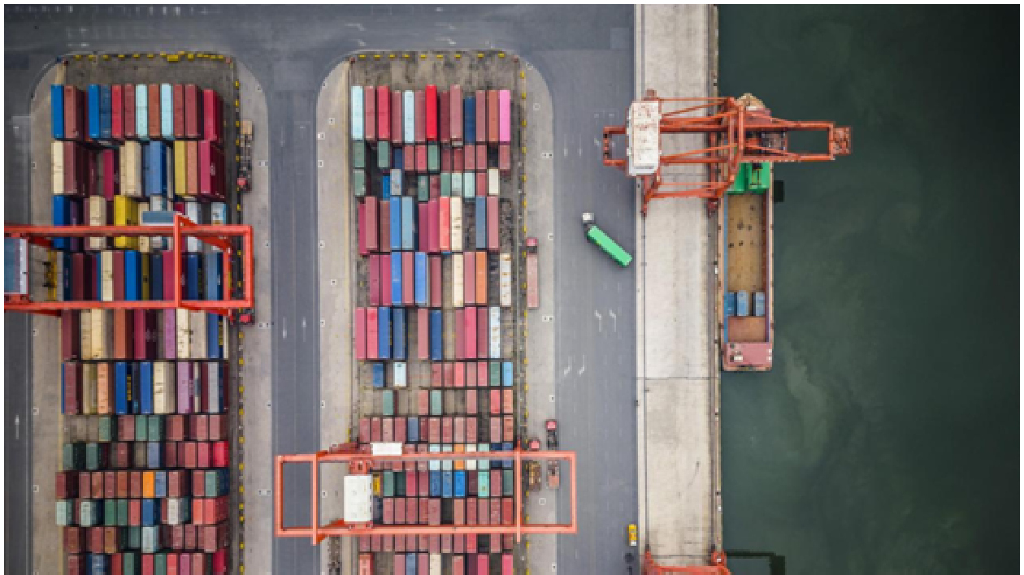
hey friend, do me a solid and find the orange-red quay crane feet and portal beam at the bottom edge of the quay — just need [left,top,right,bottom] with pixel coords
[640,539,736,575]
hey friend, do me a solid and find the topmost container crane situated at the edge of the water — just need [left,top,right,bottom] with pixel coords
[603,86,852,224]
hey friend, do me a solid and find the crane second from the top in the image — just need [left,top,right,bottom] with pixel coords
[0,211,256,324]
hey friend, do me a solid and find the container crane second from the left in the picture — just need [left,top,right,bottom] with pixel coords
[277,433,575,545]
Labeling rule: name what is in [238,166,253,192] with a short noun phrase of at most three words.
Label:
vehicle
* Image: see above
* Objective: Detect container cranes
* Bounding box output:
[640,539,736,575]
[603,86,852,224]
[0,211,256,324]
[277,433,575,545]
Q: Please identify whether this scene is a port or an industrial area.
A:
port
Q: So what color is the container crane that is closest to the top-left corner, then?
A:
red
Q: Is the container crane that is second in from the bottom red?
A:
Yes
